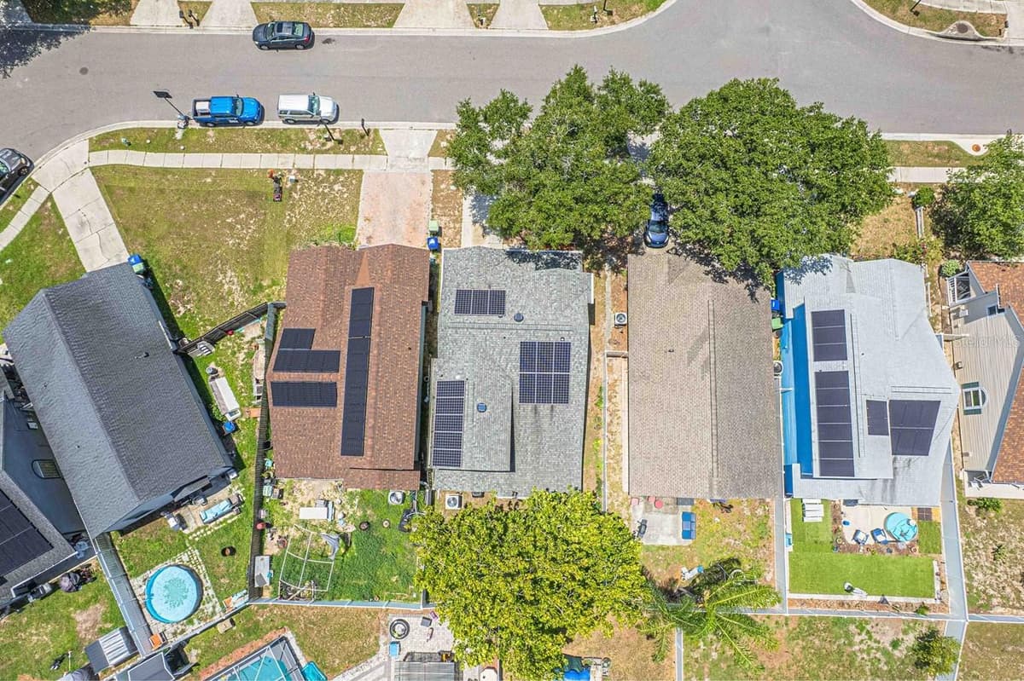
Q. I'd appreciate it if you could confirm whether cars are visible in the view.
Yes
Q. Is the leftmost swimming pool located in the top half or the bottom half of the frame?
bottom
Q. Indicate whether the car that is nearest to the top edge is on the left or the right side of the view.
left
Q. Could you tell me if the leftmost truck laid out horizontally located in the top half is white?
No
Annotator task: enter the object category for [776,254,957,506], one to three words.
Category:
house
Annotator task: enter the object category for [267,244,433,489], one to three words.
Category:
house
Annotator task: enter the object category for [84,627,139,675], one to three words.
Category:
shed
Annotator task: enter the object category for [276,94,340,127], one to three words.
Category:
car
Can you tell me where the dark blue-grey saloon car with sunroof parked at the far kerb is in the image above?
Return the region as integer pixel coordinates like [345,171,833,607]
[251,20,315,52]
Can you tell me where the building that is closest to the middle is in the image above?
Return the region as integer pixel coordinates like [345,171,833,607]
[430,246,597,496]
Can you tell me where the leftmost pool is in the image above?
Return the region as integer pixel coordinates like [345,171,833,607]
[143,559,209,625]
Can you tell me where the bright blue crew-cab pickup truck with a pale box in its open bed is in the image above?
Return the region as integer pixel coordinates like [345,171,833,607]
[189,96,266,129]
